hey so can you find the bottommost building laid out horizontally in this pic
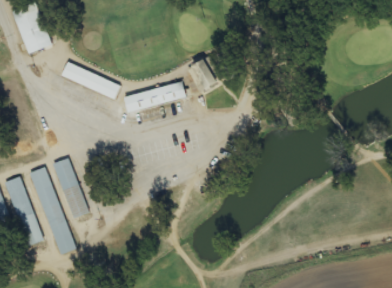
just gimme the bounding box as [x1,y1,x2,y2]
[124,82,186,112]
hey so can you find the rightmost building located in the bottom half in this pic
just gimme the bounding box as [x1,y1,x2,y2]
[54,157,90,217]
